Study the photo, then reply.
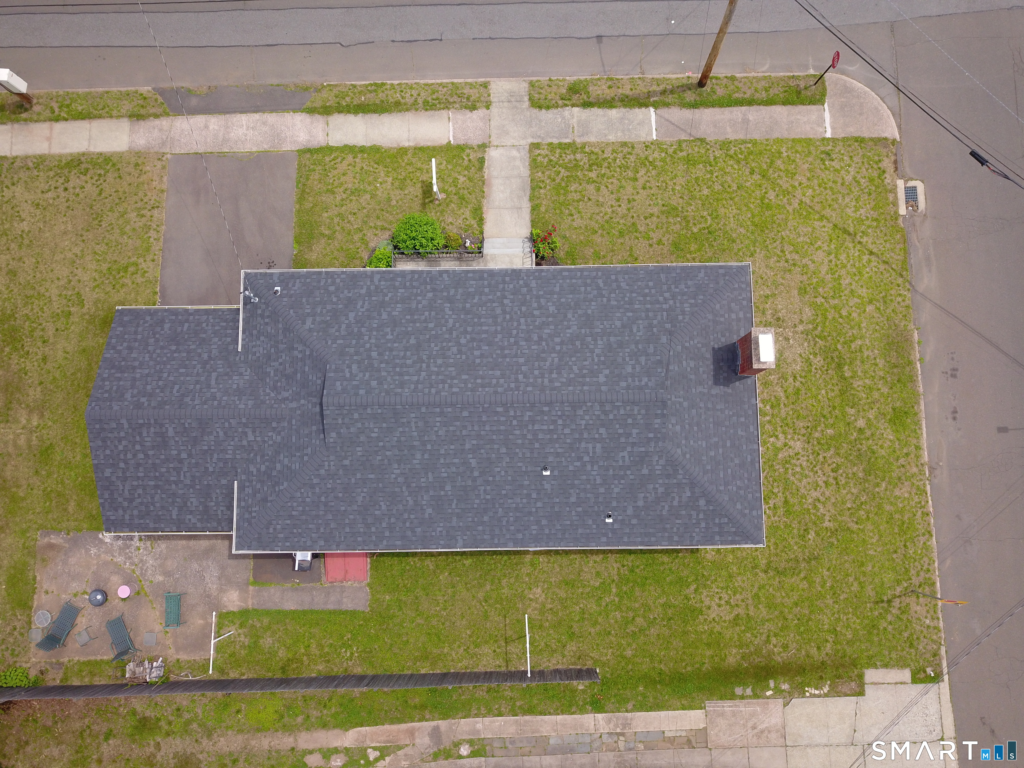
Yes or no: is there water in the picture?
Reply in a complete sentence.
No, there is no water in the image.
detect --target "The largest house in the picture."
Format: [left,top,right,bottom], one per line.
[84,262,780,553]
